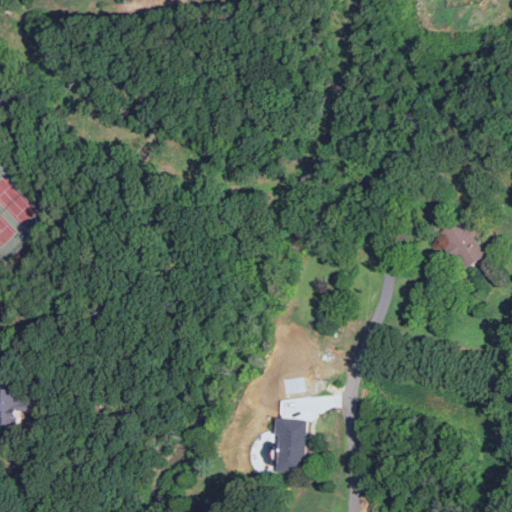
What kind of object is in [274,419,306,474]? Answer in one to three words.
house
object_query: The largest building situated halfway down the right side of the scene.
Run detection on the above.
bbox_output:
[440,224,482,267]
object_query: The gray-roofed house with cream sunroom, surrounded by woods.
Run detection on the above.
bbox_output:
[0,390,28,426]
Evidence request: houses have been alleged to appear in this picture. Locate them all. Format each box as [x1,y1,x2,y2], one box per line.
[274,419,306,474]
[0,390,28,426]
[440,224,482,267]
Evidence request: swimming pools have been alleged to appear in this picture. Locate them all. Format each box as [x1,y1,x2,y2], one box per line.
[260,442,275,465]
